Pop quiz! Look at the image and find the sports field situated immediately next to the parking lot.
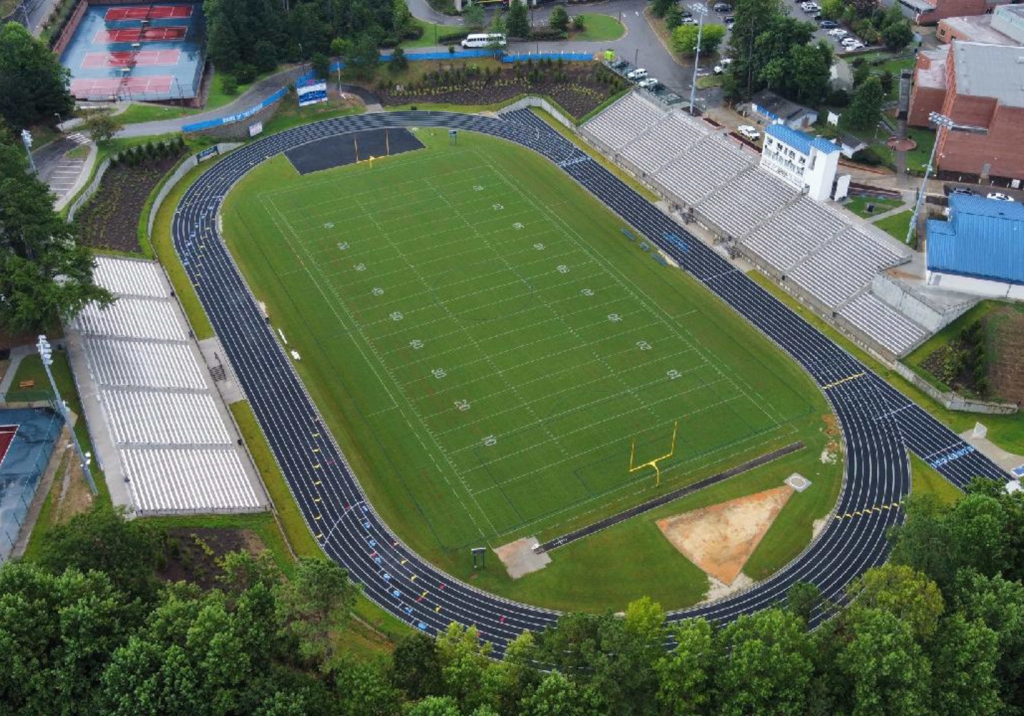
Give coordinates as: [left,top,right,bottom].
[246,142,813,563]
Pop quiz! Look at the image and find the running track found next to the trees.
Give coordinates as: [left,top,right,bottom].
[171,107,1024,680]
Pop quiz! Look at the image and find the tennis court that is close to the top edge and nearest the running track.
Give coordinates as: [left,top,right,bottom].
[46,3,207,109]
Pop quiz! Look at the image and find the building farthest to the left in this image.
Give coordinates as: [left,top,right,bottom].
[752,90,817,135]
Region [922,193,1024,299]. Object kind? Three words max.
building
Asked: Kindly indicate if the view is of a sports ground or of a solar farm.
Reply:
sports ground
